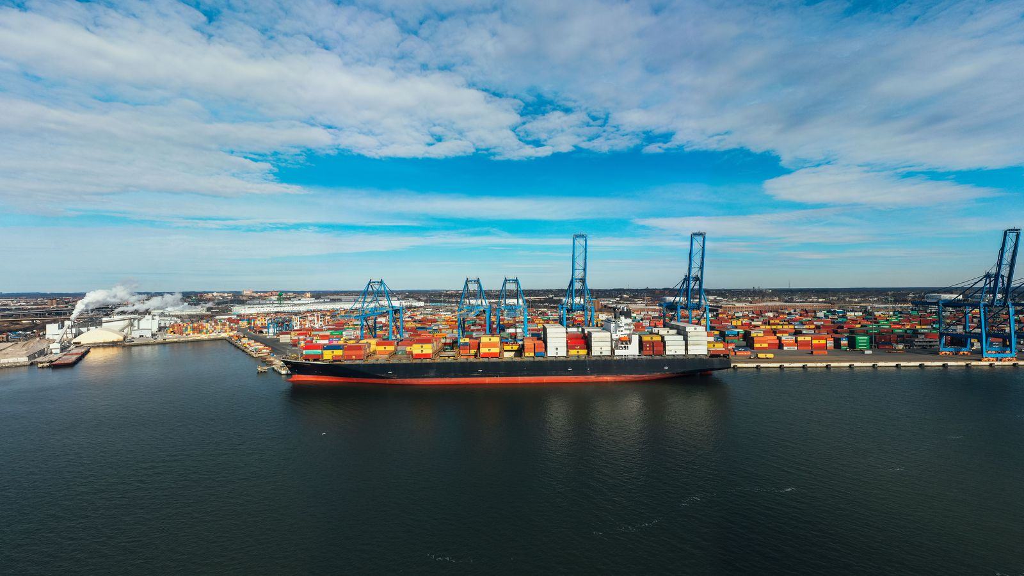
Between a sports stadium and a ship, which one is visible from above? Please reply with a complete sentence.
Looking from above, you can make out a ship.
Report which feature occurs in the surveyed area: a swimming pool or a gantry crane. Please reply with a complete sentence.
The image shows a gantry crane.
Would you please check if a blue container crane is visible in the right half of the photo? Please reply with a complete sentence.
Yes, there is a blue container crane in the right half of the photo.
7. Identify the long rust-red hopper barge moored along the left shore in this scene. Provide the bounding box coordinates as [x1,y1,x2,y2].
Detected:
[48,344,96,368]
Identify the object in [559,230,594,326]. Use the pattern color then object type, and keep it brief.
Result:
blue container crane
